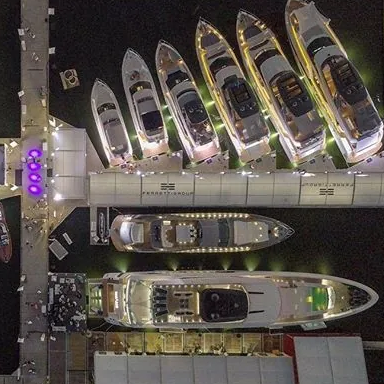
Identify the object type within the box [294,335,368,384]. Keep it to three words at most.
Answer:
building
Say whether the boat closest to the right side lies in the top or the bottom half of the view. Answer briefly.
top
